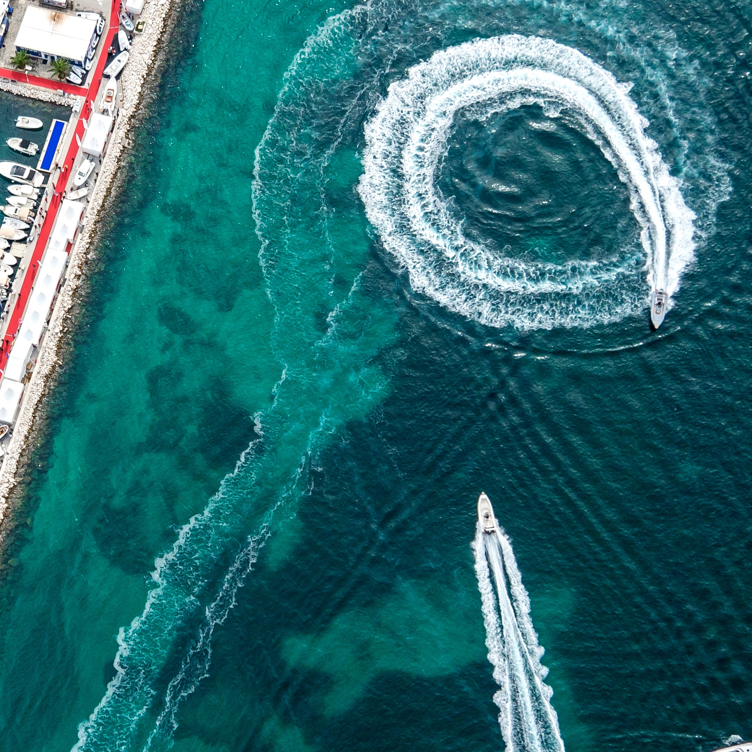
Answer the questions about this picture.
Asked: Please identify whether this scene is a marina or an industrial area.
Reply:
marina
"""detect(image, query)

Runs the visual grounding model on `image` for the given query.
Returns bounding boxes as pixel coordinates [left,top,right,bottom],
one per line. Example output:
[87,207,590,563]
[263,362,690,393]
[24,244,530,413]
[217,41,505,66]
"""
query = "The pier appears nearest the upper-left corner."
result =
[36,118,67,173]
